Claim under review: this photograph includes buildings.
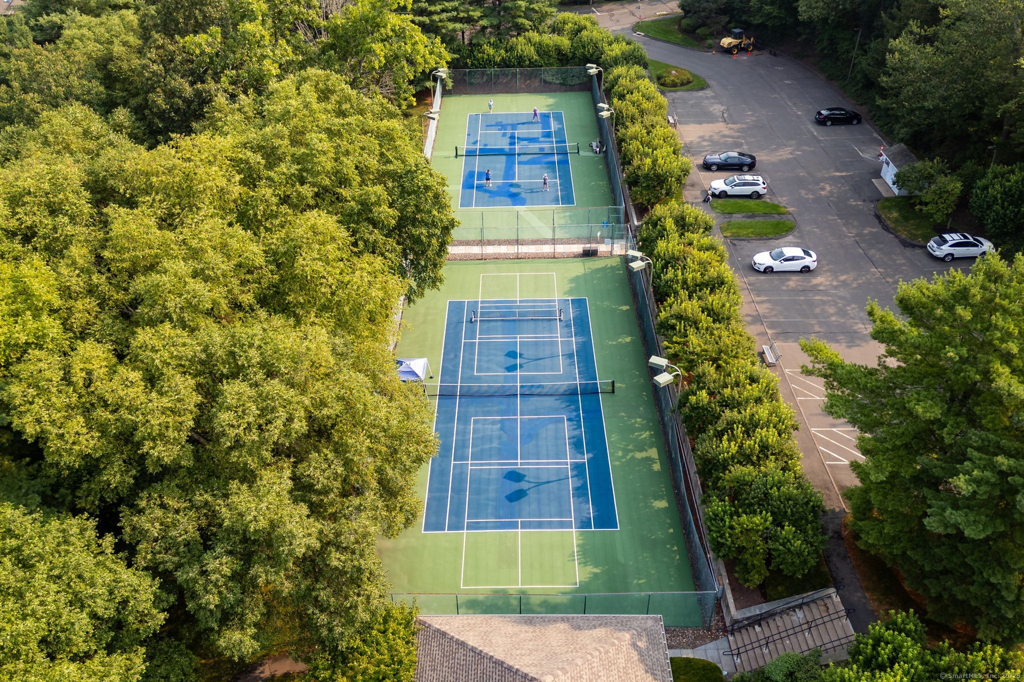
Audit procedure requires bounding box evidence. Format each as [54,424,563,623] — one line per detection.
[410,612,676,682]
[880,142,924,195]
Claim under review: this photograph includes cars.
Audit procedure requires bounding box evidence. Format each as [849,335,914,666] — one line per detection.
[752,245,817,271]
[814,106,863,124]
[702,150,756,170]
[926,229,993,259]
[711,172,768,197]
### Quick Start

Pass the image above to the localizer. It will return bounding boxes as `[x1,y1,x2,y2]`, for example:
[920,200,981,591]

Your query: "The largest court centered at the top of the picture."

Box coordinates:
[433,92,622,240]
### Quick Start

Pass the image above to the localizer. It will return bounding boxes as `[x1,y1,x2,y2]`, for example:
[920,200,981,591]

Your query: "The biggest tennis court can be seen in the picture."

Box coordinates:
[362,258,701,628]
